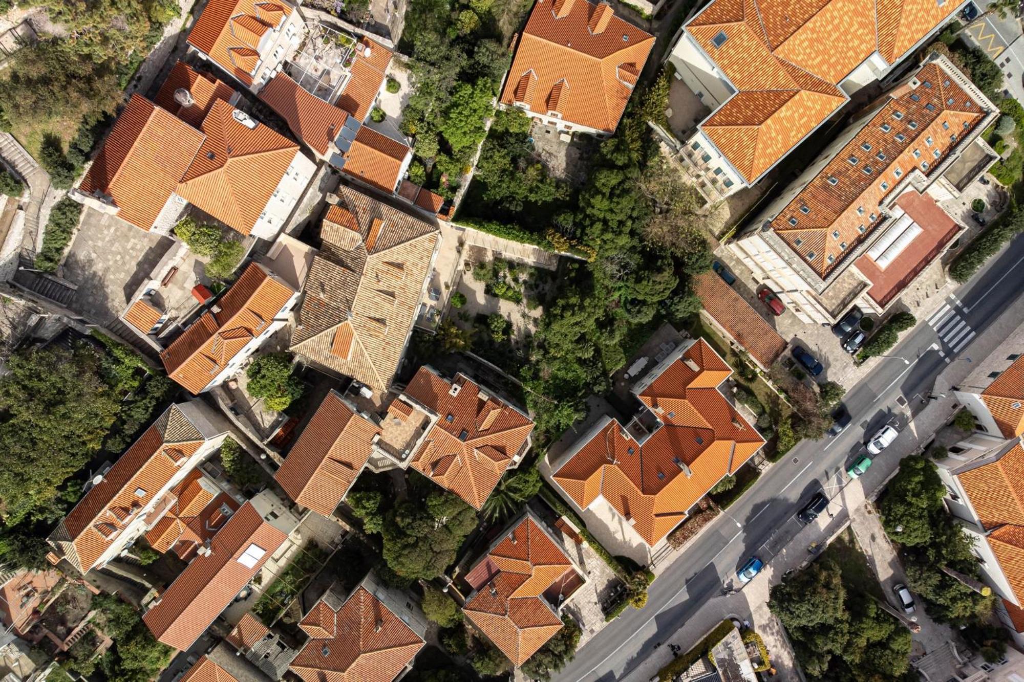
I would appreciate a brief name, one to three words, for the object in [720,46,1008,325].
building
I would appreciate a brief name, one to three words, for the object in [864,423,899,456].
car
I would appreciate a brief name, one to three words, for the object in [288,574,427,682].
house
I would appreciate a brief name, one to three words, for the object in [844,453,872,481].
car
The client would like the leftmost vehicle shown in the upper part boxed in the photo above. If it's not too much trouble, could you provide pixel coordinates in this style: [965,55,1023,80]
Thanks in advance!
[707,256,739,289]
